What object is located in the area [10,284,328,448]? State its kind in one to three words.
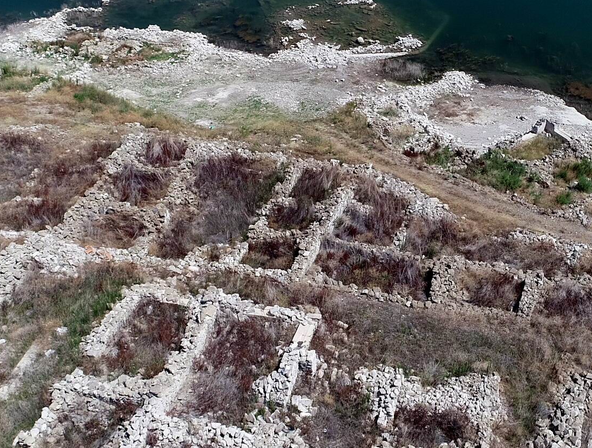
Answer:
house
